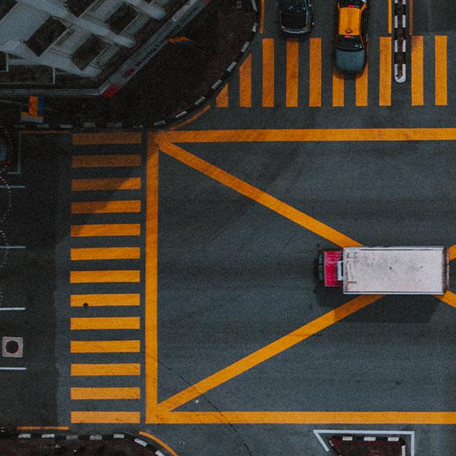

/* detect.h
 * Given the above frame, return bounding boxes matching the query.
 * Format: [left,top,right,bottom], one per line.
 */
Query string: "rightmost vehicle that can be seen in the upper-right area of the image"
[328,0,371,74]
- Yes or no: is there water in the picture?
No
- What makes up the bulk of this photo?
paved ground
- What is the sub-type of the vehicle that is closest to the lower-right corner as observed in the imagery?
truck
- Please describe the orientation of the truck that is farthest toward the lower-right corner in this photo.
from side to side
